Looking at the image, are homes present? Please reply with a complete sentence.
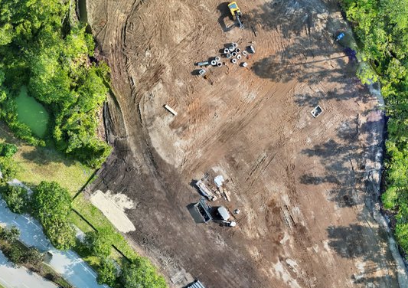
No, the frame has no home in it.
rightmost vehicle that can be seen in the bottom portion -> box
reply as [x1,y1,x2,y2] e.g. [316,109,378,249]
[218,207,232,222]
